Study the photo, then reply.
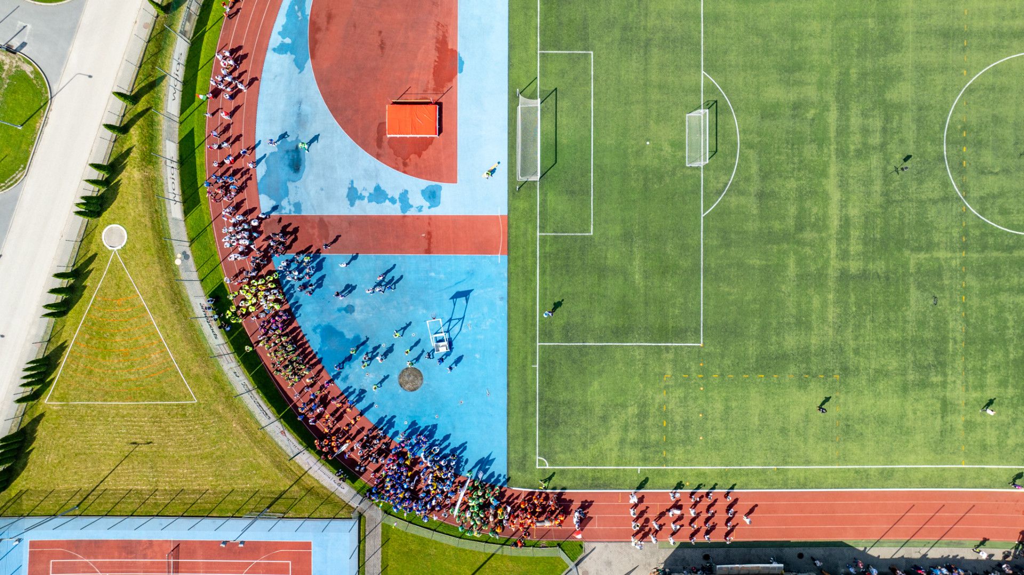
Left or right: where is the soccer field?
right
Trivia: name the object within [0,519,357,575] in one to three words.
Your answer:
sports court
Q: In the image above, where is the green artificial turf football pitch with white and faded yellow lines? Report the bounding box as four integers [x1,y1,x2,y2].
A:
[507,0,1024,489]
